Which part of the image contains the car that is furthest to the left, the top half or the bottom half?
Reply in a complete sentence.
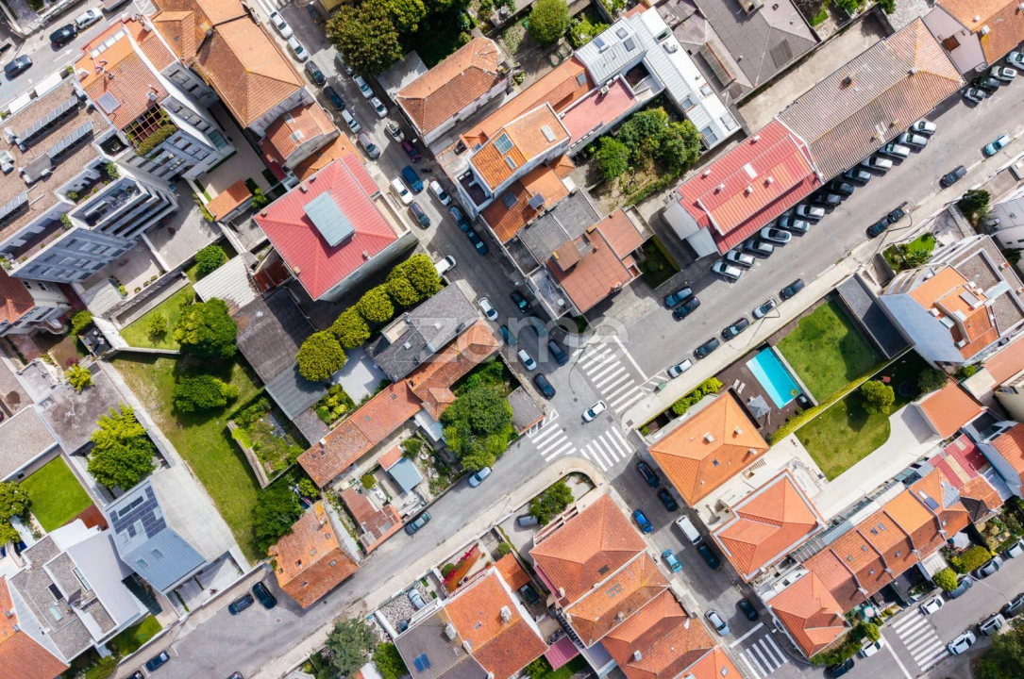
You can find the car that is furthest to the left in the top half.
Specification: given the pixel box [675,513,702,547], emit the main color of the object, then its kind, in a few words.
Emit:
white vehicle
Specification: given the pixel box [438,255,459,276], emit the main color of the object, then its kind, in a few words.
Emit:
white vehicle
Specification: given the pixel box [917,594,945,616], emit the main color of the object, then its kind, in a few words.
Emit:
white car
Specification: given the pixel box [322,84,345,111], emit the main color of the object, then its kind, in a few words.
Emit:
black car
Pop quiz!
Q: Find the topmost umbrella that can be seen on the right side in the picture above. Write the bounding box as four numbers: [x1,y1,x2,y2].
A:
[746,395,768,417]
